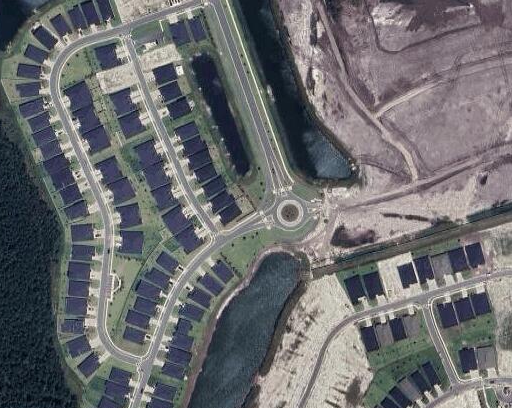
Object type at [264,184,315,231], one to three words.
roundabout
